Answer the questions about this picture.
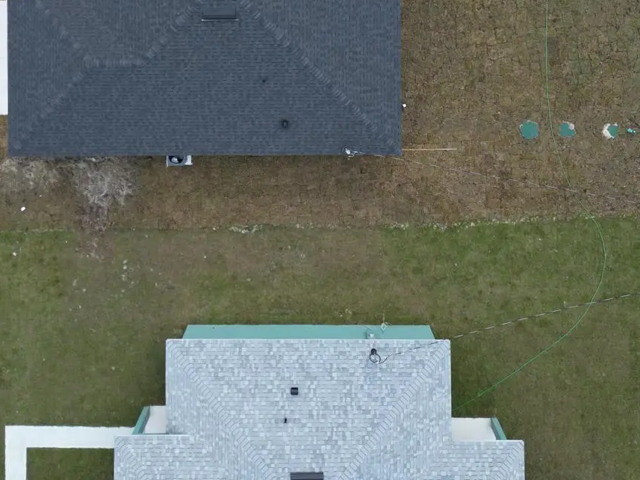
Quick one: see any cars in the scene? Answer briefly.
No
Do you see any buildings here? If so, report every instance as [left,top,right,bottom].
[7,0,401,160]
[113,309,524,480]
